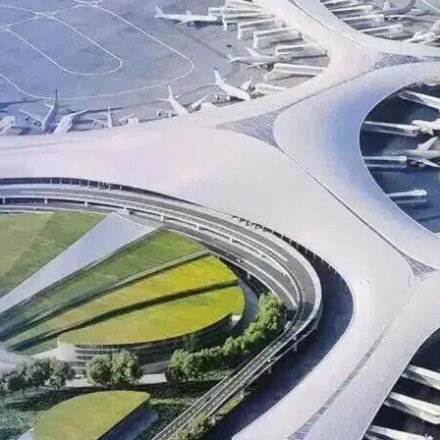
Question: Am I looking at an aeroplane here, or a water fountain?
aeroplane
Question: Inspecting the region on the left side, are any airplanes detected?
Yes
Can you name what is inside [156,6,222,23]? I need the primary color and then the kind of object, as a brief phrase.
white airplane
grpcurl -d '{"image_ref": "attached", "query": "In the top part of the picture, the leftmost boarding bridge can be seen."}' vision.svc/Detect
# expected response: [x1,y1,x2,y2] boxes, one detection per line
[0,118,16,136]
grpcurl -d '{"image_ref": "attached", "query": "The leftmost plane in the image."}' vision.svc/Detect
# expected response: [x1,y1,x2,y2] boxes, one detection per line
[27,97,76,133]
